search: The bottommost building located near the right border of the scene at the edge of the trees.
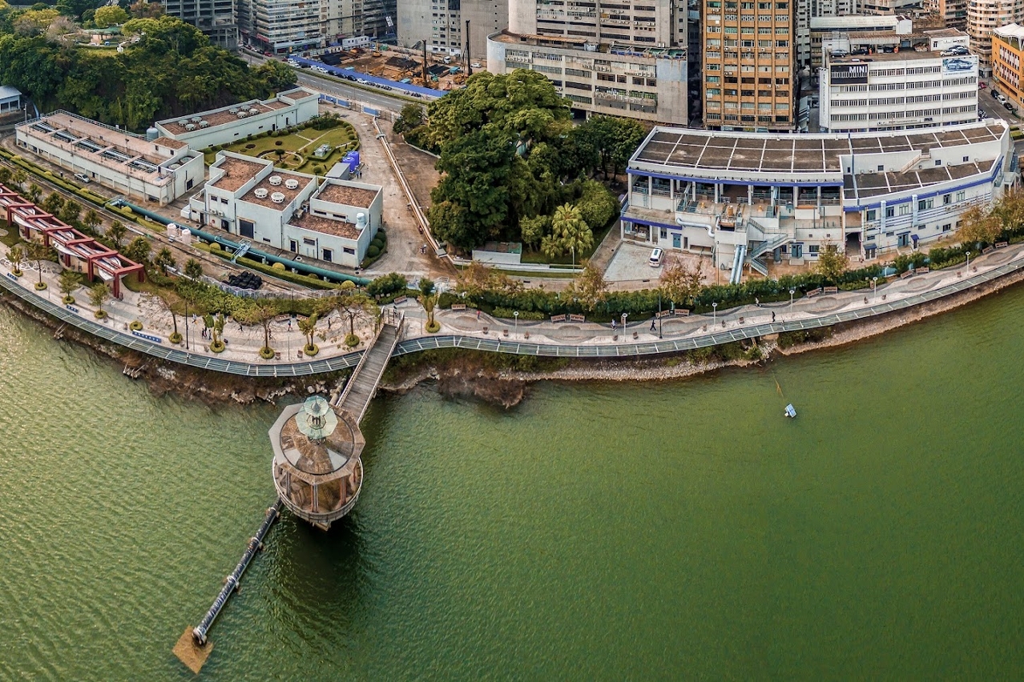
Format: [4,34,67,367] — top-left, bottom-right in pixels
[619,119,1024,278]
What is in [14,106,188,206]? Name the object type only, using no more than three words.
building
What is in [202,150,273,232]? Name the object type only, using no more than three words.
building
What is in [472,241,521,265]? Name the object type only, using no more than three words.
shed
